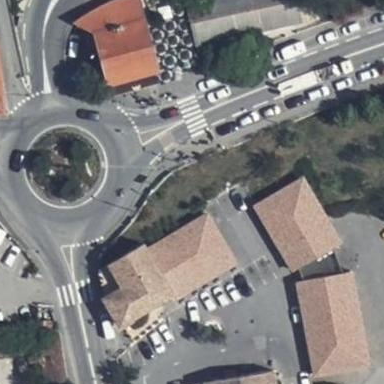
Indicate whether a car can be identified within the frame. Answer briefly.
Yes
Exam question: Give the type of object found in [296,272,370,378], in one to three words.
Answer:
building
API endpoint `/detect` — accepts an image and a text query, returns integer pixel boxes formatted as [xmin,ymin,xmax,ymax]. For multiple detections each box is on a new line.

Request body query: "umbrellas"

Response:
[175,8,186,18]
[164,20,176,32]
[164,54,176,66]
[182,34,194,45]
[178,20,188,30]
[152,28,164,40]
[167,34,179,46]
[179,49,191,60]
[160,70,172,82]
[156,42,168,54]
